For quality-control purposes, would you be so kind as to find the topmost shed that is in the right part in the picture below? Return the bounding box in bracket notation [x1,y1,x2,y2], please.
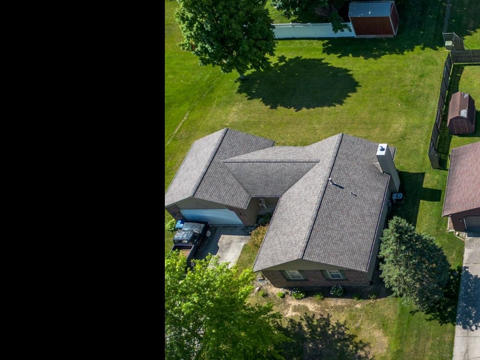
[348,2,397,36]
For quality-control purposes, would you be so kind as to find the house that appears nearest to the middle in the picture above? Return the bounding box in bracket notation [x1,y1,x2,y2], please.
[153,128,400,287]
